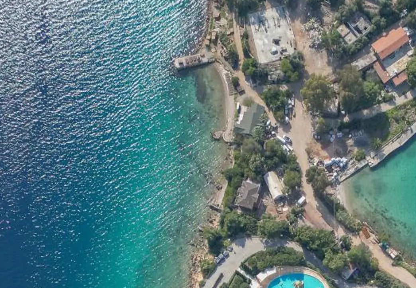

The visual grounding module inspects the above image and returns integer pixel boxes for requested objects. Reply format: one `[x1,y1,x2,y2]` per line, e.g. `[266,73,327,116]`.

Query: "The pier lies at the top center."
[174,55,214,69]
